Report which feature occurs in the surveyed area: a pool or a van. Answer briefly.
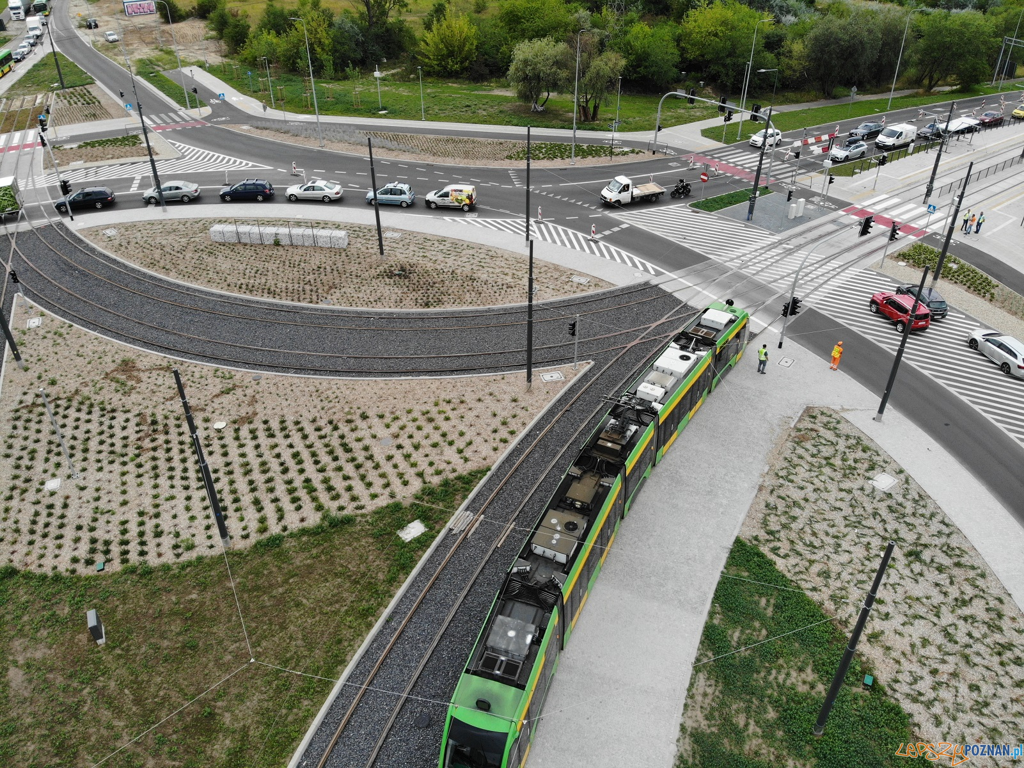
van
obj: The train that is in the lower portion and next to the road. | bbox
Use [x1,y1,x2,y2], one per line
[444,289,757,768]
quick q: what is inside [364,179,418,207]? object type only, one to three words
car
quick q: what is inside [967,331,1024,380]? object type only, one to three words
car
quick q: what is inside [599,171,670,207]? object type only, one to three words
truck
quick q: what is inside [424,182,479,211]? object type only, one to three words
van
